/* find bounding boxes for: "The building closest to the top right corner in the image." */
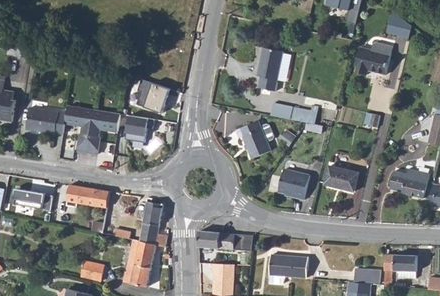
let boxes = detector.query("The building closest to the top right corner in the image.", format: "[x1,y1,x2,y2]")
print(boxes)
[386,12,412,39]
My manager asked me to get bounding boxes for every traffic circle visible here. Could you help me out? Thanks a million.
[167,150,236,216]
